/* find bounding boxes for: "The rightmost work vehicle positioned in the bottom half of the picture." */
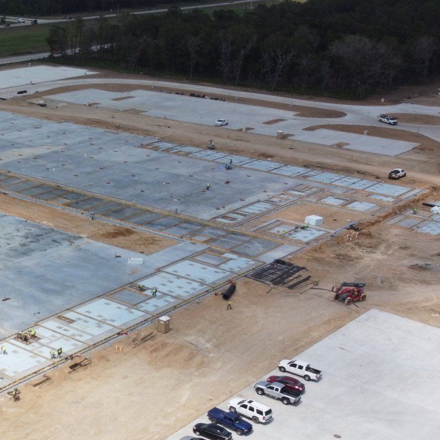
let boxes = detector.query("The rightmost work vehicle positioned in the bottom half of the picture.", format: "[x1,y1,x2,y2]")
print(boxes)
[332,281,368,305]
